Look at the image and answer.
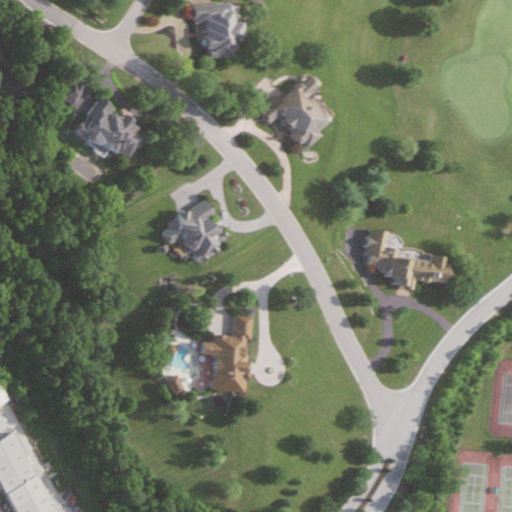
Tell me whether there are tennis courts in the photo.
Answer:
Yes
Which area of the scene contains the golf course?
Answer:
top right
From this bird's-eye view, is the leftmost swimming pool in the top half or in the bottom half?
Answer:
bottom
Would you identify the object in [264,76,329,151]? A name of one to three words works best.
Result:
house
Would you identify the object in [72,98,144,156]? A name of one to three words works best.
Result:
house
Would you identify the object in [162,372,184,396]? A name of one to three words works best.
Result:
building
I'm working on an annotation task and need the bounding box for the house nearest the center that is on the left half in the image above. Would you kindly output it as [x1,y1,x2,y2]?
[161,198,226,264]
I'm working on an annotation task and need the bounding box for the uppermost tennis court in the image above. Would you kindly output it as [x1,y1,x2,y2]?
[490,358,512,438]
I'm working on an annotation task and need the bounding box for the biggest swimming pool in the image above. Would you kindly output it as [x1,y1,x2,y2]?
[171,346,191,372]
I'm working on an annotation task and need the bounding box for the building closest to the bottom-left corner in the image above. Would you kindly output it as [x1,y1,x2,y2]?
[0,432,64,512]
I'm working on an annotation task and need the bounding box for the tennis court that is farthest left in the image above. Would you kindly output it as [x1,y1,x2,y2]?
[450,450,497,512]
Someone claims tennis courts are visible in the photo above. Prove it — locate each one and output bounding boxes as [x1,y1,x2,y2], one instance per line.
[450,450,497,512]
[490,358,512,438]
[493,455,512,512]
